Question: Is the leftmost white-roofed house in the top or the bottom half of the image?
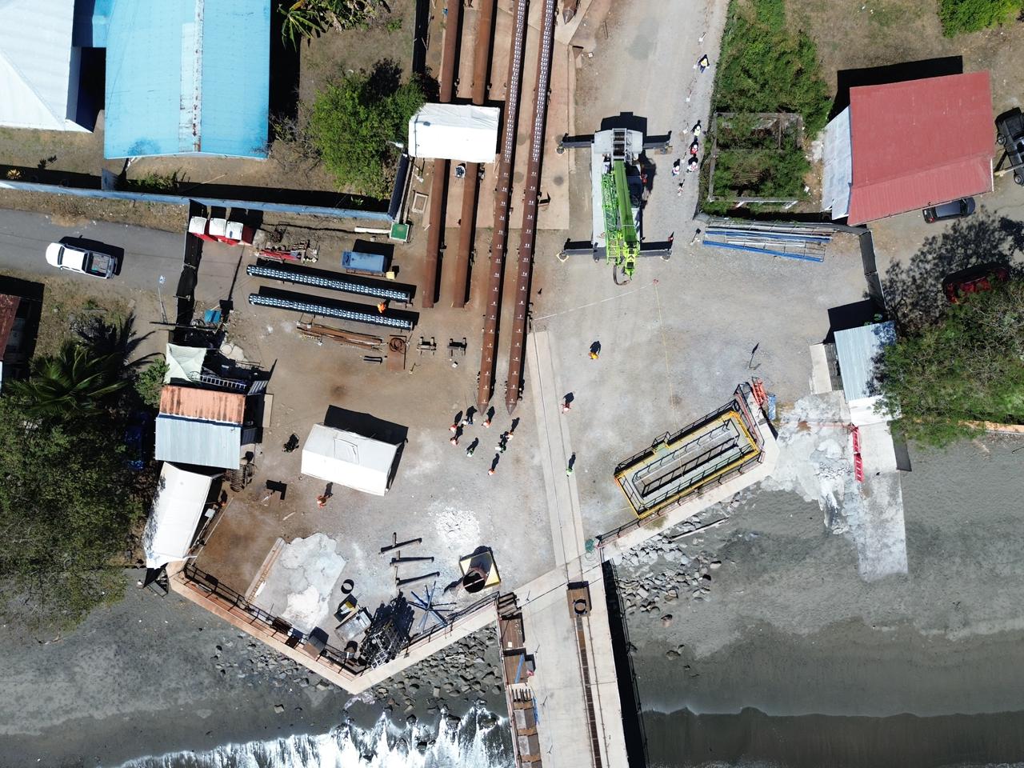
top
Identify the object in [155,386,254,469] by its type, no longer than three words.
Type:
shed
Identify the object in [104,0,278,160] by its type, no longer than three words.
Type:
house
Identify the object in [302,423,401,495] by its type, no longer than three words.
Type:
tent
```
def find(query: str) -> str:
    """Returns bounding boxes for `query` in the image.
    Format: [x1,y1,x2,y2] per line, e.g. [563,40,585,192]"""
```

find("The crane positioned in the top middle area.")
[553,127,677,285]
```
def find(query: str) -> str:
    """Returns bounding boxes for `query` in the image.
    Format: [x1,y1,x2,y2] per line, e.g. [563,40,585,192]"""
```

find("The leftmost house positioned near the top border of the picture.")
[0,0,94,133]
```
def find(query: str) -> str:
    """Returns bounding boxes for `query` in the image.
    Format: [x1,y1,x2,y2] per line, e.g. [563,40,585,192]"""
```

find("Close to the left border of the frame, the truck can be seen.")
[46,238,123,282]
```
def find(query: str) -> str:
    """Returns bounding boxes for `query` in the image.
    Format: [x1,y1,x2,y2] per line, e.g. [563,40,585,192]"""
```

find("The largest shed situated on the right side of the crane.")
[825,71,995,230]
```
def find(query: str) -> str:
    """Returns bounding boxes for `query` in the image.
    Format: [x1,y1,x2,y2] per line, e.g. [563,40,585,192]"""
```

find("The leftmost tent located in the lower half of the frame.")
[145,461,227,569]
